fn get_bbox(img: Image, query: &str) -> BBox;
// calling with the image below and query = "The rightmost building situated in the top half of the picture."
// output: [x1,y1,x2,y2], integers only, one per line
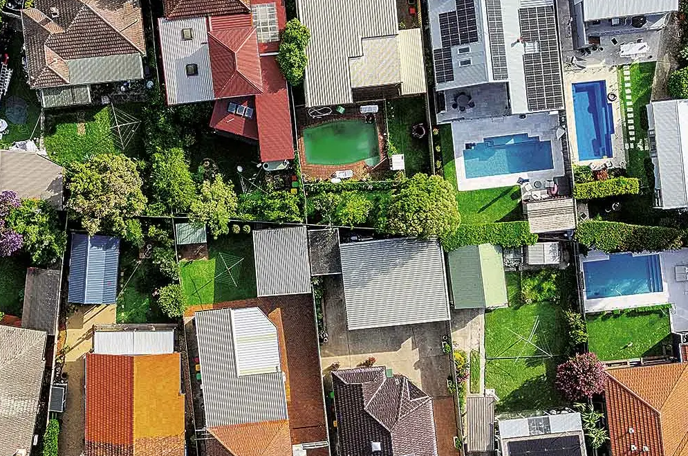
[643,100,688,209]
